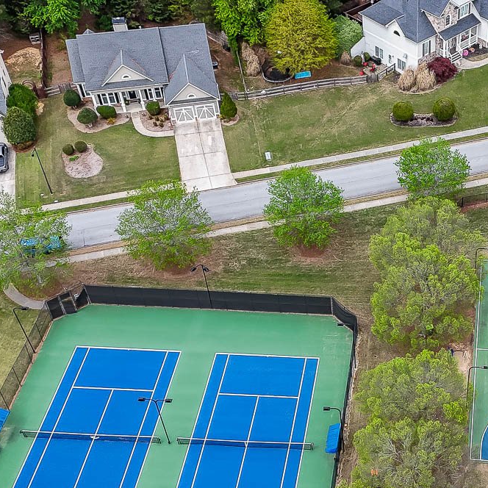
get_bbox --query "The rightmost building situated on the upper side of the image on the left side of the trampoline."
[61,13,222,125]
